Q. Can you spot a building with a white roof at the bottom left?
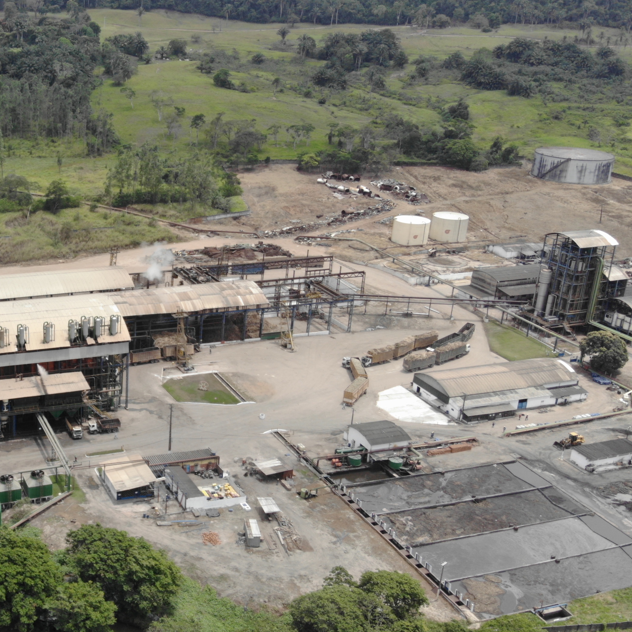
Yes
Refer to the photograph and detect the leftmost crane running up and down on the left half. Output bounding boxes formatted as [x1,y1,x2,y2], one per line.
[174,321,198,372]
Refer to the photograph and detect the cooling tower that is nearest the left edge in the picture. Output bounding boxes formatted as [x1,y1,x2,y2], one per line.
[0,471,23,510]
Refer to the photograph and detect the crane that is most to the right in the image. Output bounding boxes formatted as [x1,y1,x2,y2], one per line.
[301,272,354,302]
